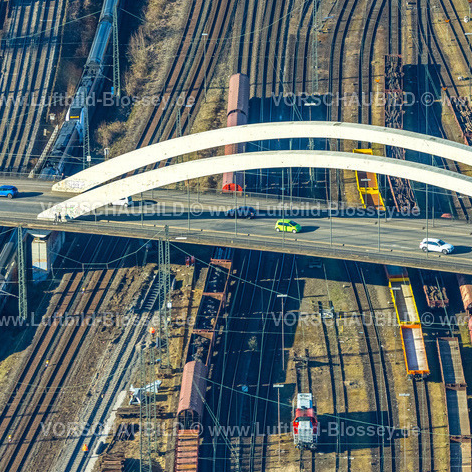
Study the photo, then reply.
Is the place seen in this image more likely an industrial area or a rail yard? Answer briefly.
rail yard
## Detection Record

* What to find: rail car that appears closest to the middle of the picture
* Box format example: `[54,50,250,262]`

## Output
[208,247,234,268]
